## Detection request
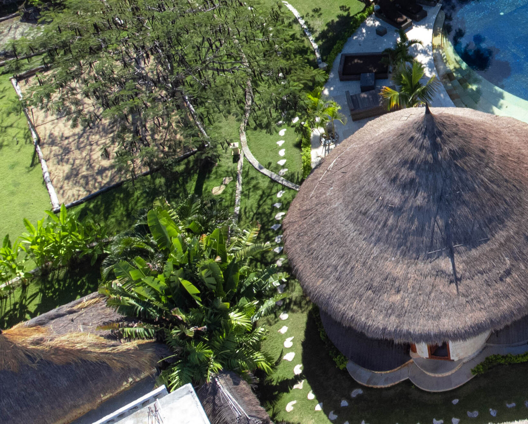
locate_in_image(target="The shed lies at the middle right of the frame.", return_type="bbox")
[278,103,528,366]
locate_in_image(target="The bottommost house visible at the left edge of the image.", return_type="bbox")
[0,288,172,424]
